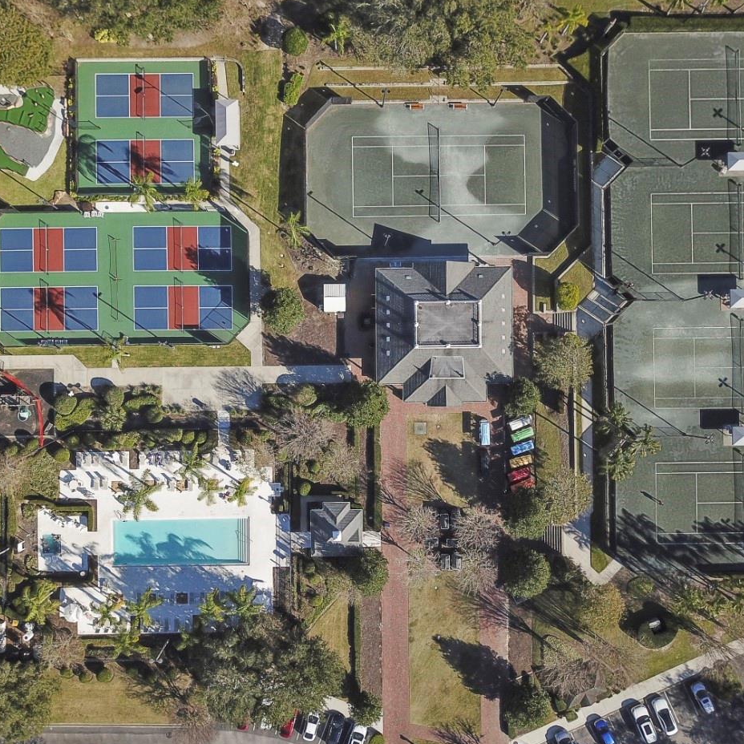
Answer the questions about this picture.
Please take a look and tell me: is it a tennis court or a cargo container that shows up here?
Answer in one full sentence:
There is a tennis court in the scene.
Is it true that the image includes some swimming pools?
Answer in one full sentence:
Yes, the photo shows a swimming pool.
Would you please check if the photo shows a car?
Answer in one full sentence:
Yes, the frame does contain a car.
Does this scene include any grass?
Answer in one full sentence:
Yes, there is grass in the image.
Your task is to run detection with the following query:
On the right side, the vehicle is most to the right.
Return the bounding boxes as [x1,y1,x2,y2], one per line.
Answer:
[689,681,714,714]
